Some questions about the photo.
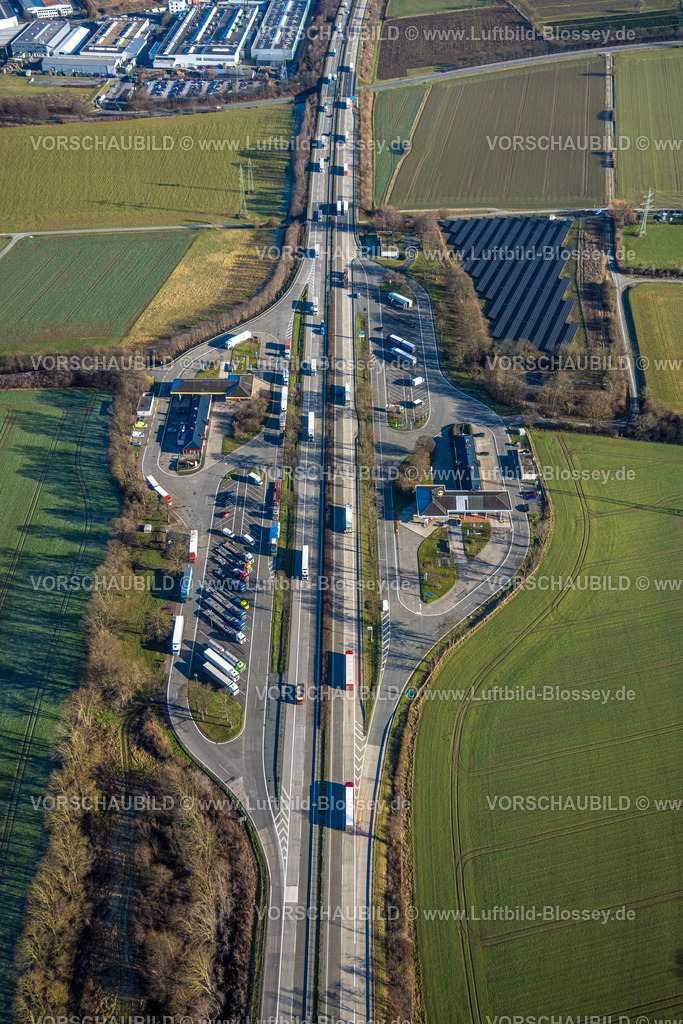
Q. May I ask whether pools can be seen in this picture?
No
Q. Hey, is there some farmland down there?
Yes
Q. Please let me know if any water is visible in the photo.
No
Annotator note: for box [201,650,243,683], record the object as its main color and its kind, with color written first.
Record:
white truck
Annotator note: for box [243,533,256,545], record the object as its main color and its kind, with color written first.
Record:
white vehicle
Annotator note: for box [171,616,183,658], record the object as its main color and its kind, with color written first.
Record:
white vehicle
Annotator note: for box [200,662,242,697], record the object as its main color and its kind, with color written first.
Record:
white truck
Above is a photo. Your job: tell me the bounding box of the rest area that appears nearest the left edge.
[132,228,314,1024]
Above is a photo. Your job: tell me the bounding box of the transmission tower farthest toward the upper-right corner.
[635,187,650,237]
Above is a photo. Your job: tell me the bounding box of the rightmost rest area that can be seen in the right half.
[350,225,545,1024]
